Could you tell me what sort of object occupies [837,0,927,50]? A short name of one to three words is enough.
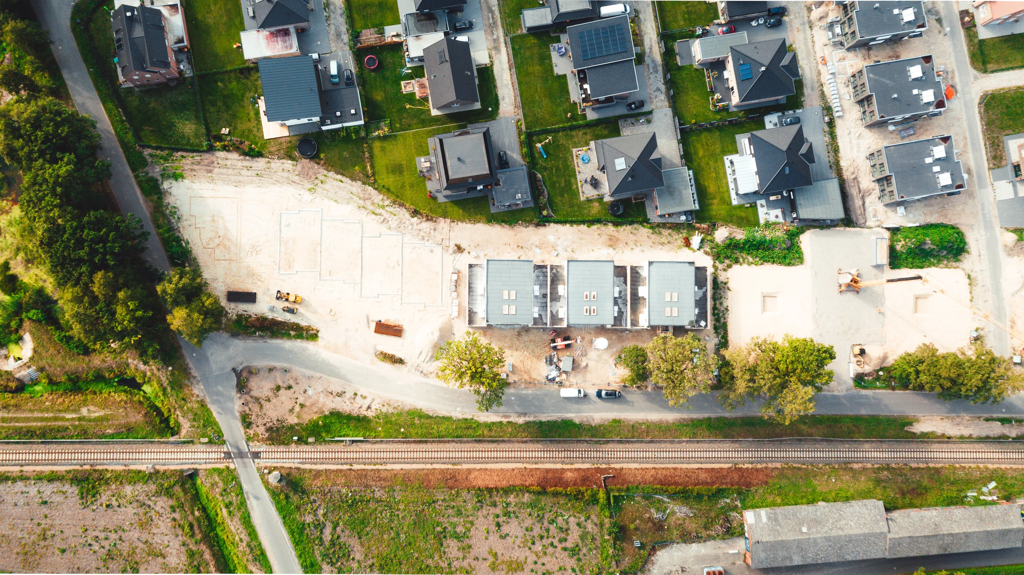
building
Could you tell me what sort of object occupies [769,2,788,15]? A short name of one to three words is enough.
vehicle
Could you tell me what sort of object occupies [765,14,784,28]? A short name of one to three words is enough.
car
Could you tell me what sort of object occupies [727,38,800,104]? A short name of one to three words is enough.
house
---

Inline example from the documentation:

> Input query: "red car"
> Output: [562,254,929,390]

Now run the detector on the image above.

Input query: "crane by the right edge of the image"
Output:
[837,268,1024,347]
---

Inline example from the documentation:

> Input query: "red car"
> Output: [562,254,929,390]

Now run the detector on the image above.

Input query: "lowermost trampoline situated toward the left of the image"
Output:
[296,137,315,156]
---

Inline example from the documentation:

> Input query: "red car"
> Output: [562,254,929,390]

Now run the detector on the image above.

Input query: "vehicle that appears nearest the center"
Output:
[550,336,583,350]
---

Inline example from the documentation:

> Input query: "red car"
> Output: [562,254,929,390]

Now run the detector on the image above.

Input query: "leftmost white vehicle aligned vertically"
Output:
[327,57,340,82]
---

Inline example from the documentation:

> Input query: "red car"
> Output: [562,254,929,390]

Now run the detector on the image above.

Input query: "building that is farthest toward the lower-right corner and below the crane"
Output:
[883,503,1024,558]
